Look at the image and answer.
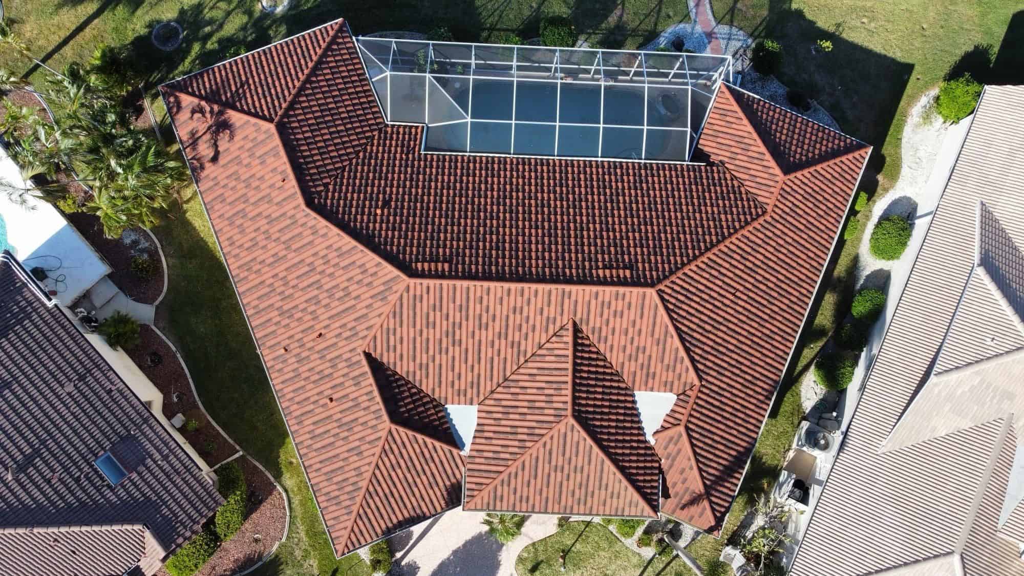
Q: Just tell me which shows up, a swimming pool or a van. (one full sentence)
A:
It is a swimming pool that can be seen here.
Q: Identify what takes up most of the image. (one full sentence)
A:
The bulk of the photo consists of buildings.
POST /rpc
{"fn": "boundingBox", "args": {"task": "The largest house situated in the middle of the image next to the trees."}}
[156,15,875,560]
